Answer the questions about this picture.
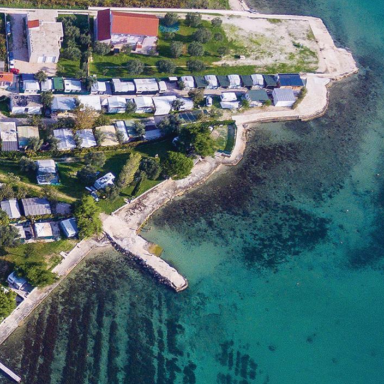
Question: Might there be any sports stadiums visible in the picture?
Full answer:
No, no sports stadium can be seen from above.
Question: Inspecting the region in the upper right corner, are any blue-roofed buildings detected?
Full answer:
Yes, a blue-roofed building appears in the upper right corner.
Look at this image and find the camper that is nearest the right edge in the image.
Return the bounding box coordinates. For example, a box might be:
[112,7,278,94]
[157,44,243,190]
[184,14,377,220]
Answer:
[216,93,238,113]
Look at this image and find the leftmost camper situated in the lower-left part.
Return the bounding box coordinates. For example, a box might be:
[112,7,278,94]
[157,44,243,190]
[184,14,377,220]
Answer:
[8,275,27,296]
